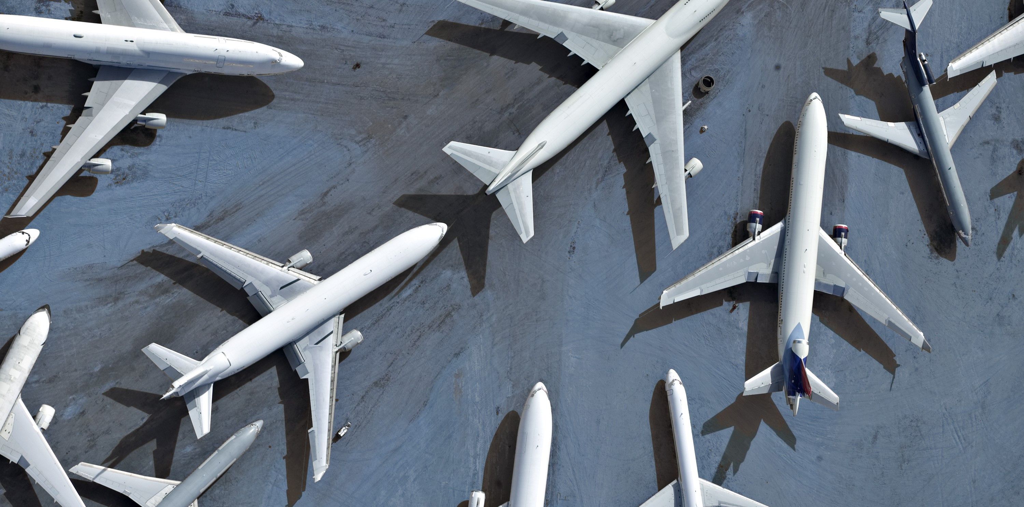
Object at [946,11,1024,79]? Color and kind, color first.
white airplane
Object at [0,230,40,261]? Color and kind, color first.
white airplane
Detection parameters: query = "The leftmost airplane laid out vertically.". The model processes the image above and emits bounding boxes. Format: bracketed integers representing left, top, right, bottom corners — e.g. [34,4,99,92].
[0,304,85,507]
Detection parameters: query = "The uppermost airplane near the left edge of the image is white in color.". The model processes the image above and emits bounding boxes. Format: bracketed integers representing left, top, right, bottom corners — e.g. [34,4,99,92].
[0,0,304,221]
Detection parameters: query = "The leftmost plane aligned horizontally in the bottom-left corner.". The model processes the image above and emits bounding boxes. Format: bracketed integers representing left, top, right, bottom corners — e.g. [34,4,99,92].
[69,420,264,507]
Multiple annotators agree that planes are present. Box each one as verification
[442,0,735,256]
[0,0,304,221]
[502,382,551,507]
[142,223,447,484]
[69,420,264,507]
[946,11,1024,79]
[657,92,929,416]
[0,304,85,507]
[639,369,767,507]
[838,0,997,246]
[0,230,40,261]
